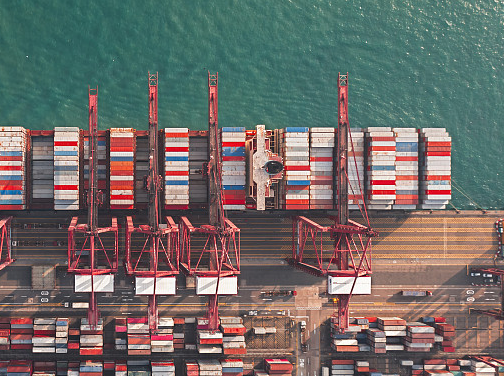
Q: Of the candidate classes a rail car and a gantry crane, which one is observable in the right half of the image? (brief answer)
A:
gantry crane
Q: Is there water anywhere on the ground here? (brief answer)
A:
Yes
